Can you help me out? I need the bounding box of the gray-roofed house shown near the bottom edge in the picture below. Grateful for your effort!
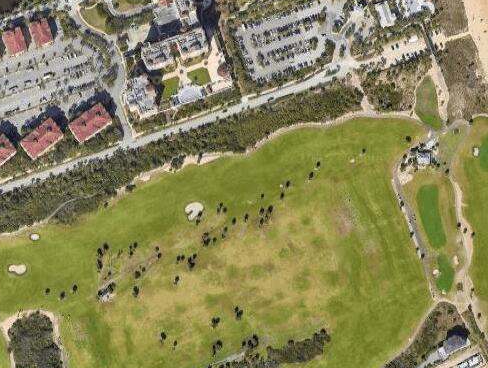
[440,333,466,355]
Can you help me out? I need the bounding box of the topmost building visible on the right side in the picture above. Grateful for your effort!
[376,1,396,27]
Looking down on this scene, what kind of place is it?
golf course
